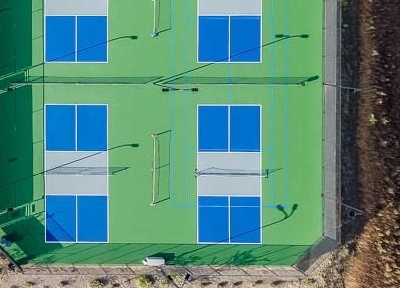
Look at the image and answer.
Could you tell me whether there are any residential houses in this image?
No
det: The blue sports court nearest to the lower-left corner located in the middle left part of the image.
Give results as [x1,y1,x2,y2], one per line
[46,105,108,243]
